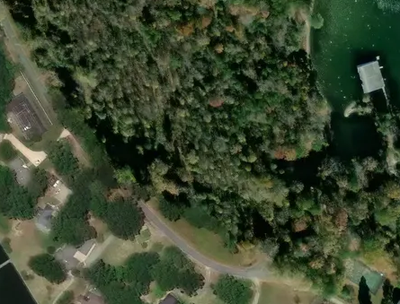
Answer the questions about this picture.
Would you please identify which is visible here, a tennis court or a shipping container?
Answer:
tennis court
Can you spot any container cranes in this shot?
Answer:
No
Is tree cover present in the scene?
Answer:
Yes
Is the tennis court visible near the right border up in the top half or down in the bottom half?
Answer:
bottom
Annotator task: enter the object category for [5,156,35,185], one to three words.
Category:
house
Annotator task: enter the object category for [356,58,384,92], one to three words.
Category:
building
